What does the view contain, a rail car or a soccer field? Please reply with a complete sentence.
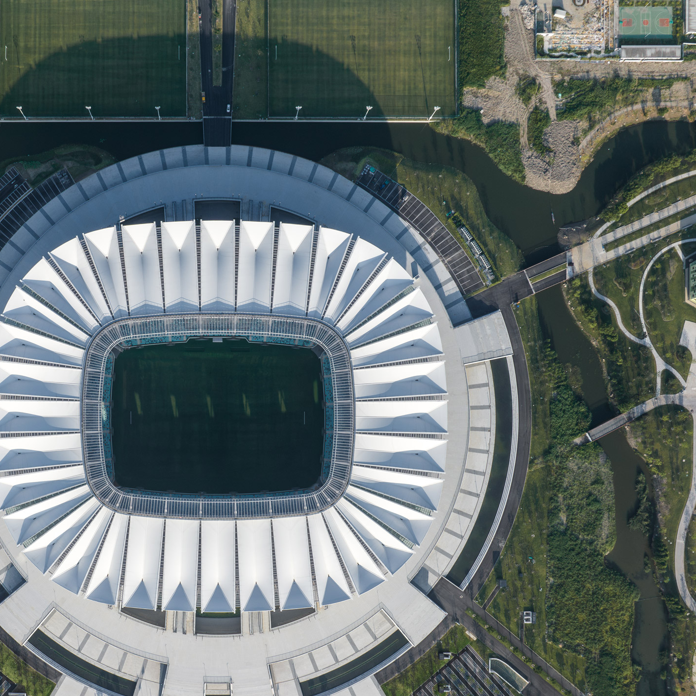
It is a soccer field that can be seen here.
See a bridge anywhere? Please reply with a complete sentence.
Yes, the picture does show a bridge.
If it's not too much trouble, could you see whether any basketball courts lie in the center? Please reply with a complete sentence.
No, no basketball court can be made out in the center.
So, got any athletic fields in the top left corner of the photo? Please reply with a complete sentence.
Yes, an athletic field is visible in the top left corner of the photo.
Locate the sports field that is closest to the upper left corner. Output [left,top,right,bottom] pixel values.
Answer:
[0,0,188,118]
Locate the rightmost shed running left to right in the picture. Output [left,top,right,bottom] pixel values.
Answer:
[618,44,681,60]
